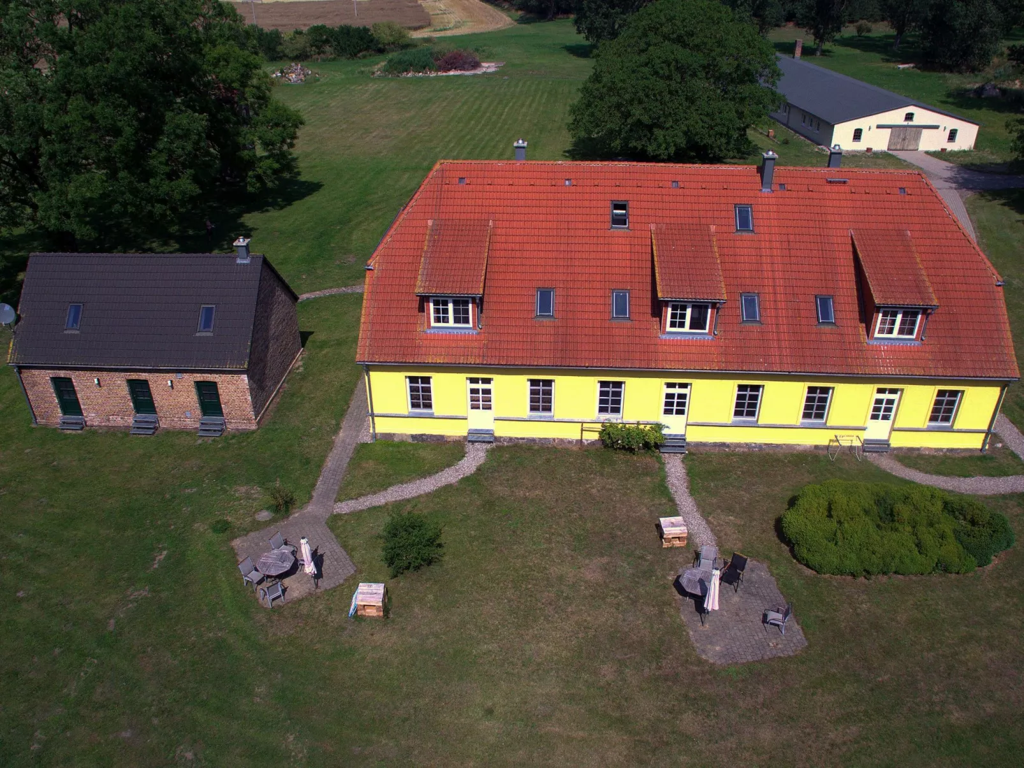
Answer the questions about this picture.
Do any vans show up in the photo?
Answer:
No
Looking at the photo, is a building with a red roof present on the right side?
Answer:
Yes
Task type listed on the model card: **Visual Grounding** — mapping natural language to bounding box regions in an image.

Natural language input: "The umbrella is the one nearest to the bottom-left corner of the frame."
[300,535,325,593]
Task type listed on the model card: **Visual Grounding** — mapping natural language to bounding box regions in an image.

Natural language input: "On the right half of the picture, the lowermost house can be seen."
[356,141,1023,459]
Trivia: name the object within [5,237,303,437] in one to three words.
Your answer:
house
